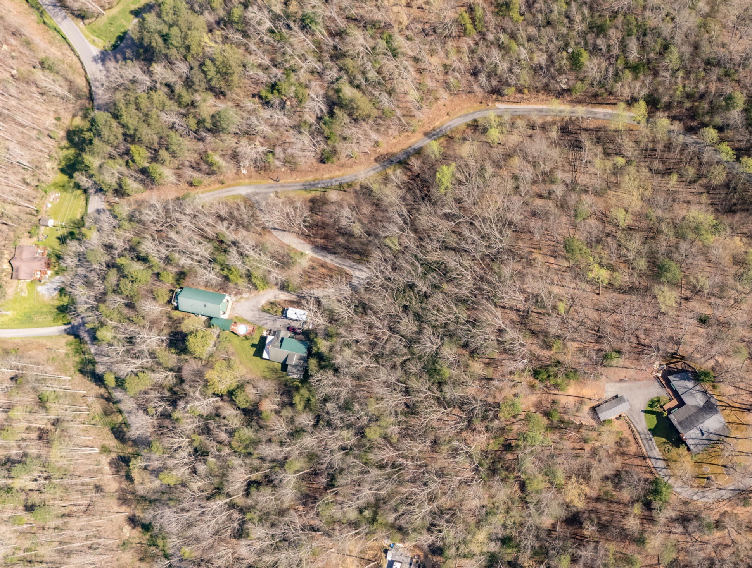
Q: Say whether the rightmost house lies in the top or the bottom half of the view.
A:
bottom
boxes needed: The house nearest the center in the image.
[262,329,310,379]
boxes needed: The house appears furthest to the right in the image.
[658,362,730,453]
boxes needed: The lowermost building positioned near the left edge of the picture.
[11,245,57,282]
